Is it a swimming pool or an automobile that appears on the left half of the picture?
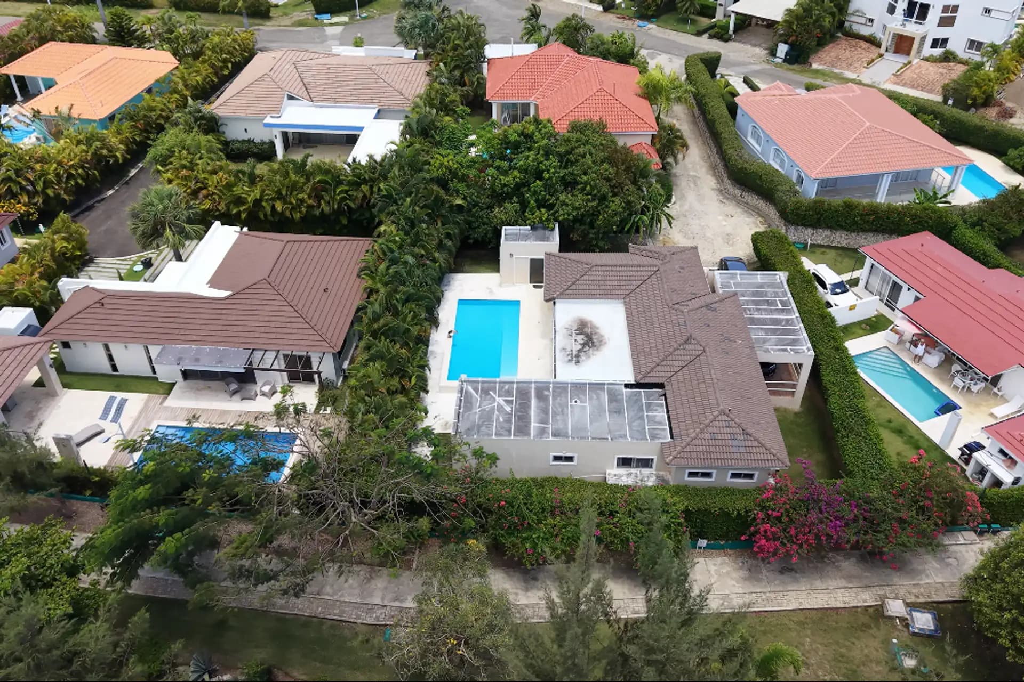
swimming pool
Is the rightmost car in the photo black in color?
No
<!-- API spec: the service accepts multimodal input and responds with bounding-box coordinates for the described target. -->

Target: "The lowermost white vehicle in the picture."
[811,266,865,317]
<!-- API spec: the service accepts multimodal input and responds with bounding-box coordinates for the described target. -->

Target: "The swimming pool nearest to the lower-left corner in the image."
[143,421,306,488]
